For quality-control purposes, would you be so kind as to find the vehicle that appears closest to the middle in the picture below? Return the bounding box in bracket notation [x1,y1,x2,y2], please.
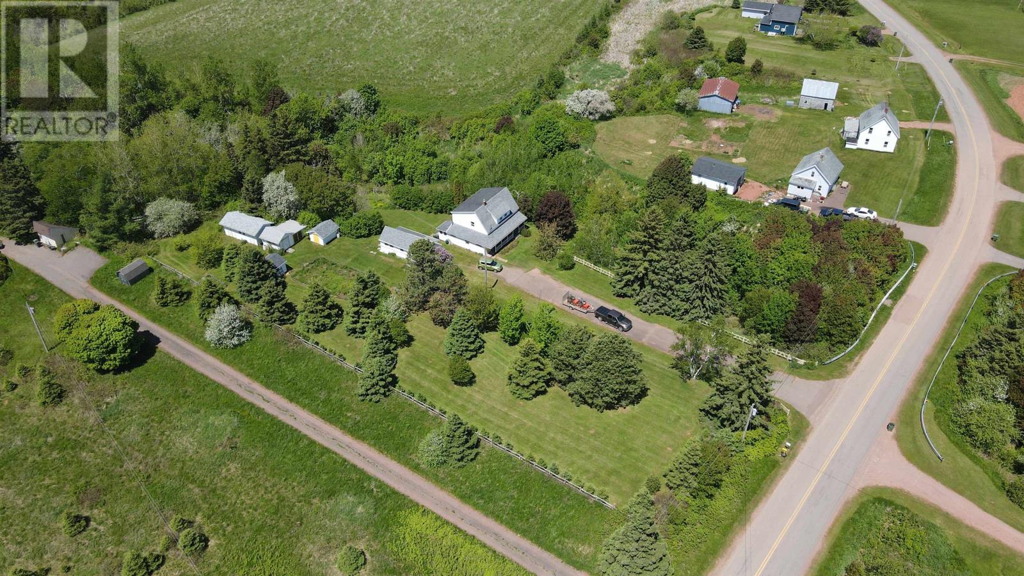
[476,256,503,272]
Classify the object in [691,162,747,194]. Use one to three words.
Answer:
shed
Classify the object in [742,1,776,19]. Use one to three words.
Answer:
building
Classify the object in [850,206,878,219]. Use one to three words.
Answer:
vehicle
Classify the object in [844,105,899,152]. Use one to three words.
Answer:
house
